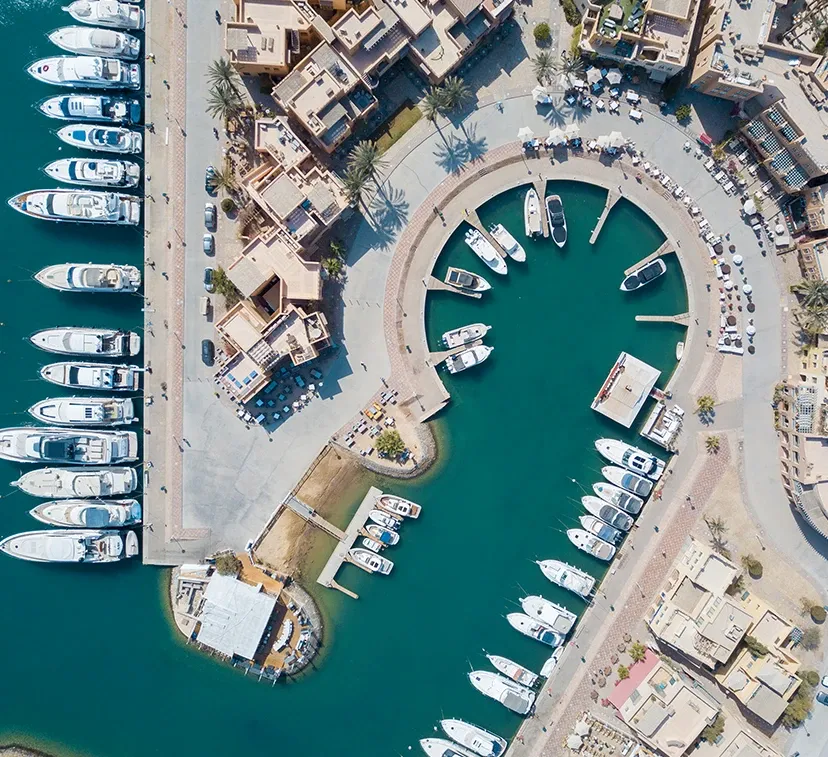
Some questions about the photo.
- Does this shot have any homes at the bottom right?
Yes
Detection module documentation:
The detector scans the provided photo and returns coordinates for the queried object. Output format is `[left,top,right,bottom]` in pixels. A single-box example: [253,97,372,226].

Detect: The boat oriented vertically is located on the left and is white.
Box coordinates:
[127,530,140,556]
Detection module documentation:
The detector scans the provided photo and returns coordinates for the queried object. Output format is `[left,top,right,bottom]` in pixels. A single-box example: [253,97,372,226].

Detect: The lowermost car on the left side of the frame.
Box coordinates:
[201,339,213,365]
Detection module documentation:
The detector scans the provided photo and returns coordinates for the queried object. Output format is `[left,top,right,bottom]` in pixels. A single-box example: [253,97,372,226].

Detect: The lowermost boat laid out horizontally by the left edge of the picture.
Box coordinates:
[1,530,131,563]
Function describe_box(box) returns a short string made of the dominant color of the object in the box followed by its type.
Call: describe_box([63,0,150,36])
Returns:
white boat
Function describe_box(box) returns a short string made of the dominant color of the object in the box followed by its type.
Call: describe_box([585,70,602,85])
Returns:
white umbrella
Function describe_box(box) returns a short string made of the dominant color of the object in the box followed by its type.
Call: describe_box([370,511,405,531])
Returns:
white boat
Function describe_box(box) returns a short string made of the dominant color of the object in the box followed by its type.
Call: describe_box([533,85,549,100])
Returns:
white umbrella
